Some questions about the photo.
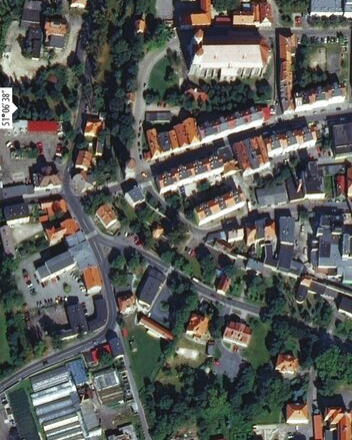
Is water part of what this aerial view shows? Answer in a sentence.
No, no water is visible.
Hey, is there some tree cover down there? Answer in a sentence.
Yes, the picture does contain tree cover.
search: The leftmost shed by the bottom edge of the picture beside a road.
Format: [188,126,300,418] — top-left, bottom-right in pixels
[7,388,33,424]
